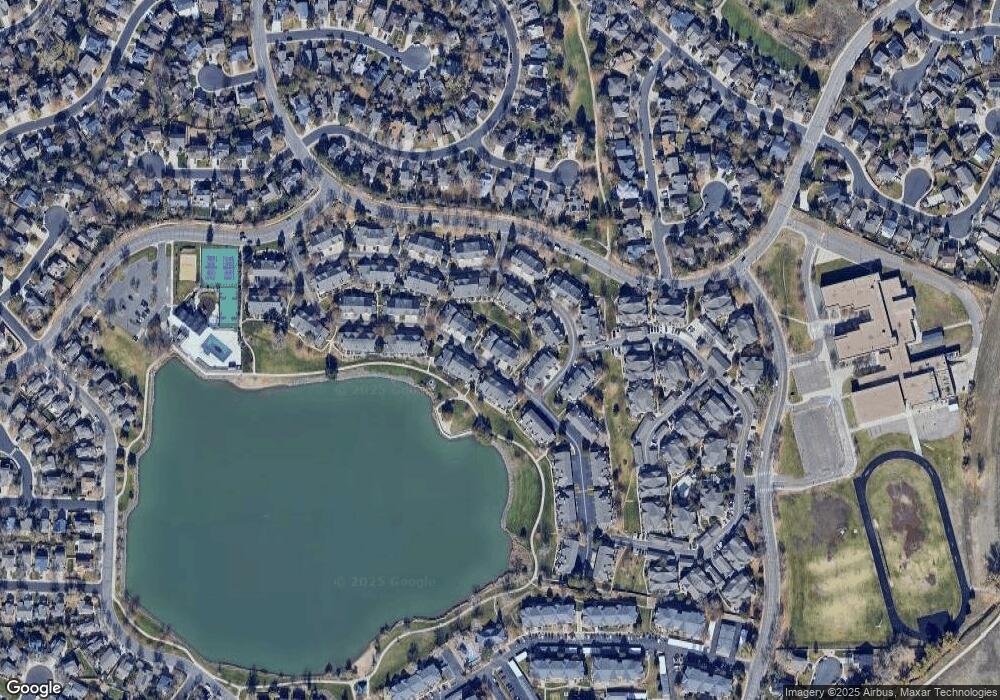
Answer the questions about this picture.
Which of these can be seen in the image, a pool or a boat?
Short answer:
pool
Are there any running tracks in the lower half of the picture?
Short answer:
Yes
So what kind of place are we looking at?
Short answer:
residential area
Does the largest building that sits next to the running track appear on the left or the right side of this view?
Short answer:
right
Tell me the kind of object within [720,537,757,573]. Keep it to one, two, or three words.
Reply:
building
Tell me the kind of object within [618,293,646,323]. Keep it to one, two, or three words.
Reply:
building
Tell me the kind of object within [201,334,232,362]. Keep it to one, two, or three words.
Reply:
swimming pool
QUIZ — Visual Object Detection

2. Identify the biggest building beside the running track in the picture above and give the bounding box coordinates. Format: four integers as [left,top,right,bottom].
[821,272,954,426]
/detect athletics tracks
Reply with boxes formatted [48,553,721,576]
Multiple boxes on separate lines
[854,448,971,641]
